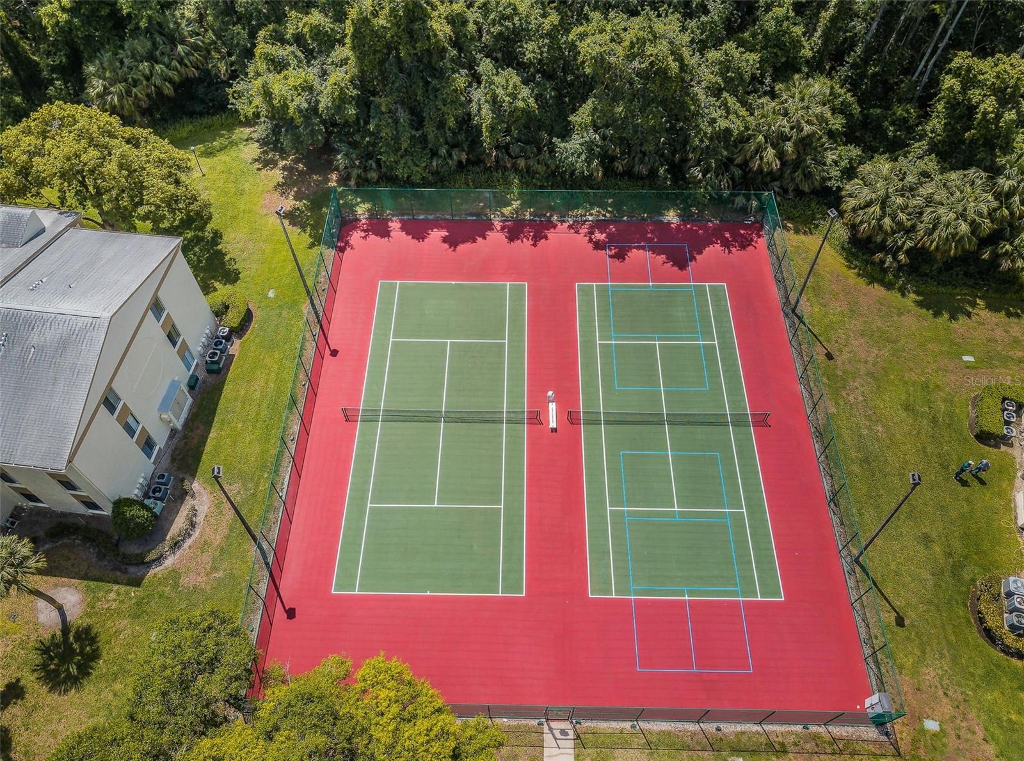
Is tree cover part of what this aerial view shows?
Yes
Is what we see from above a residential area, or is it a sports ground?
sports ground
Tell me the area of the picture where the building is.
left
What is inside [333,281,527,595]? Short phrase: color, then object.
green tennis court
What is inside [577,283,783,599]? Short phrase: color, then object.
green tennis court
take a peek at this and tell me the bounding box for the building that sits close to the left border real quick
[0,204,217,532]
